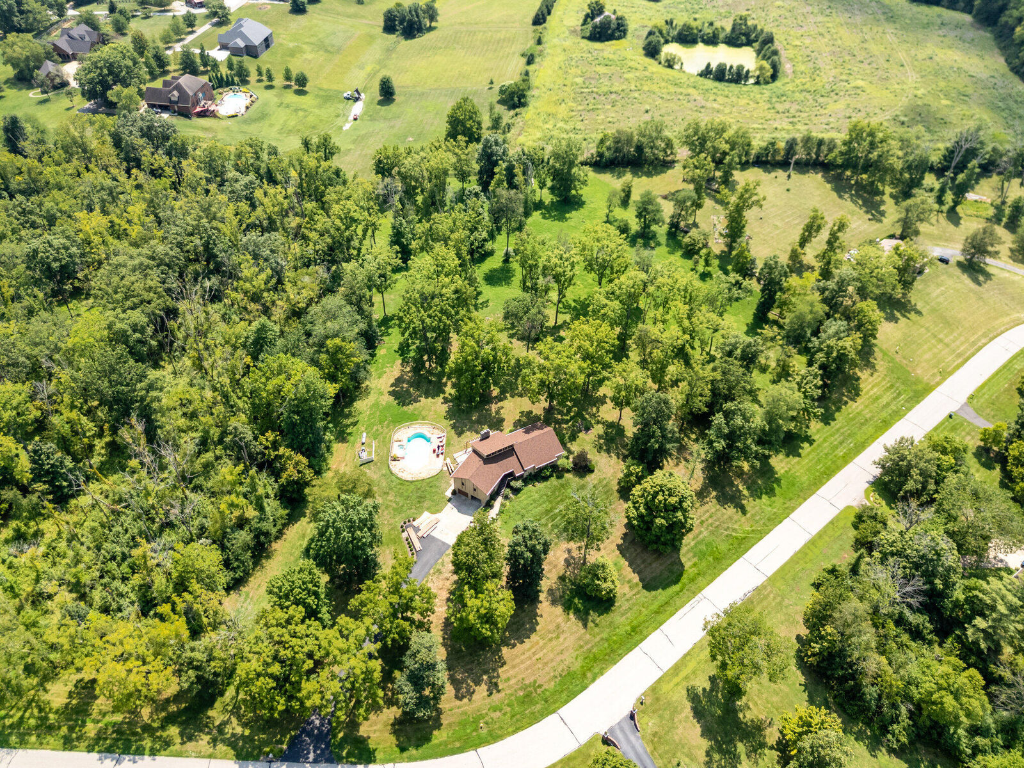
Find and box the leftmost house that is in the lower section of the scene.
[450,423,566,508]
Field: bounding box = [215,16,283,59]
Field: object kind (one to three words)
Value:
house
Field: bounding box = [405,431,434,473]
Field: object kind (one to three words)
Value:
swimming pool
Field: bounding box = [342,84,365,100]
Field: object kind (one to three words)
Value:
vehicle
